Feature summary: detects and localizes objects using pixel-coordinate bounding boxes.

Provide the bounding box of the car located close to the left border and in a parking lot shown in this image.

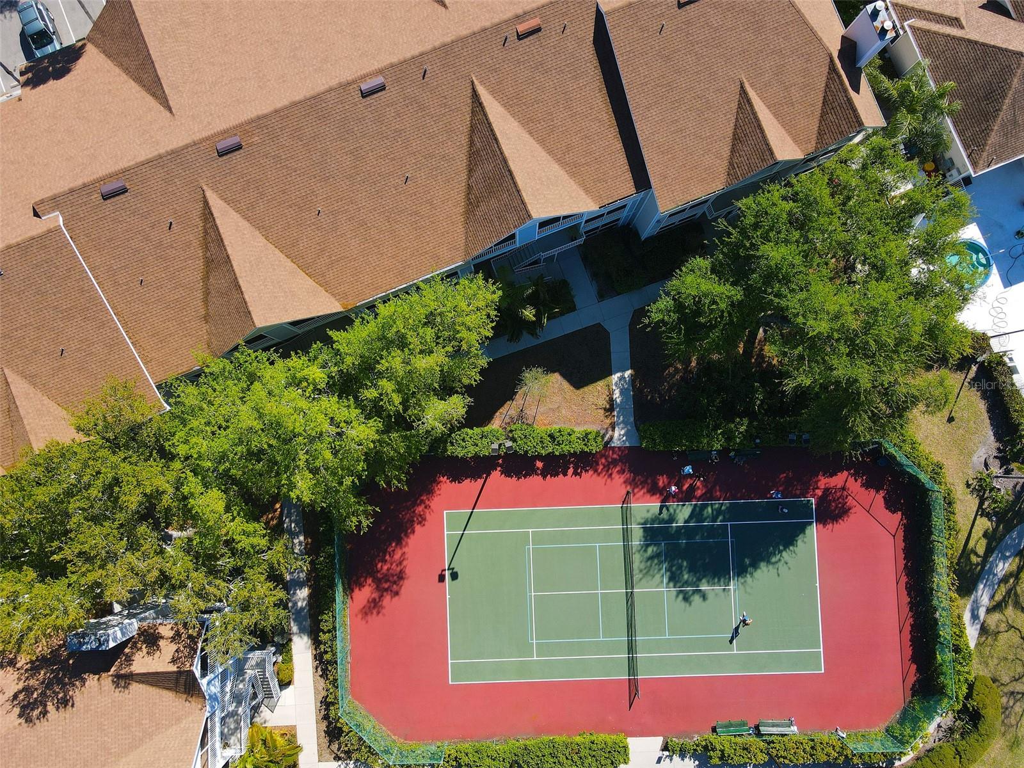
[22,0,70,54]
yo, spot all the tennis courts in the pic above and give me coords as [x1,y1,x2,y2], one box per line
[349,443,932,745]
